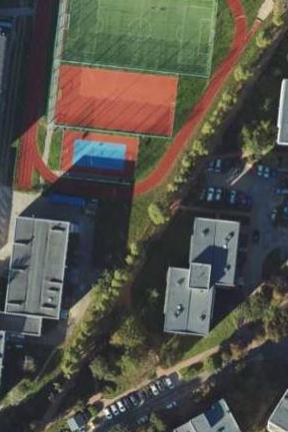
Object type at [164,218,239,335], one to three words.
building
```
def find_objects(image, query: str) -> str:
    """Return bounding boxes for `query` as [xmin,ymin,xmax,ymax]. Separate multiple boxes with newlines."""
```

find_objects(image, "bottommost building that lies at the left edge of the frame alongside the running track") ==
[5,216,71,319]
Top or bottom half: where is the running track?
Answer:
top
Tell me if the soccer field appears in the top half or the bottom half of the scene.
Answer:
top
